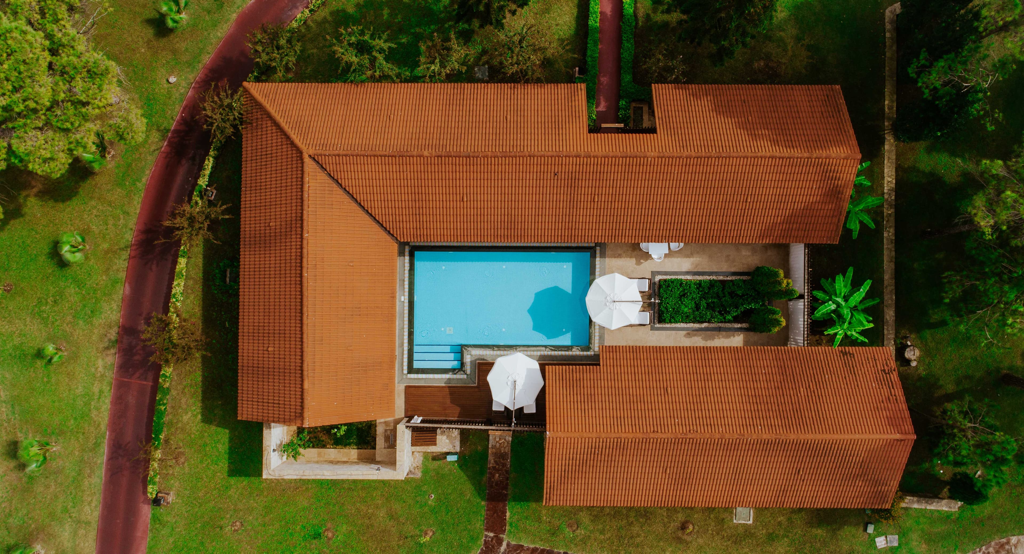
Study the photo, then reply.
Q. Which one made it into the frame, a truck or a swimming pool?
swimming pool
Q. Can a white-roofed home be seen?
No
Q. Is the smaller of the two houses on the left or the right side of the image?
right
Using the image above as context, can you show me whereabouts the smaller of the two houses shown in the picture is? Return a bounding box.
[544,345,919,510]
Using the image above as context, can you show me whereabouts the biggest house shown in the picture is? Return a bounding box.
[237,81,865,429]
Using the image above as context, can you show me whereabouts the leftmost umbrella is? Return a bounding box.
[486,350,544,428]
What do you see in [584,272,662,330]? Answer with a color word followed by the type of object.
white umbrella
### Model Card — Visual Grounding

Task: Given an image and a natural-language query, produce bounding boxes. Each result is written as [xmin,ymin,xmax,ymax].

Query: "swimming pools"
[414,252,591,369]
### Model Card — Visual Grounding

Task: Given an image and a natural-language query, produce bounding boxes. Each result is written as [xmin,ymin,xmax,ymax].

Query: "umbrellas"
[486,350,544,428]
[584,272,662,330]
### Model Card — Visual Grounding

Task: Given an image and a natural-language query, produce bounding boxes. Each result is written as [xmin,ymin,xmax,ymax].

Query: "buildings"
[544,345,919,510]
[237,81,865,429]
